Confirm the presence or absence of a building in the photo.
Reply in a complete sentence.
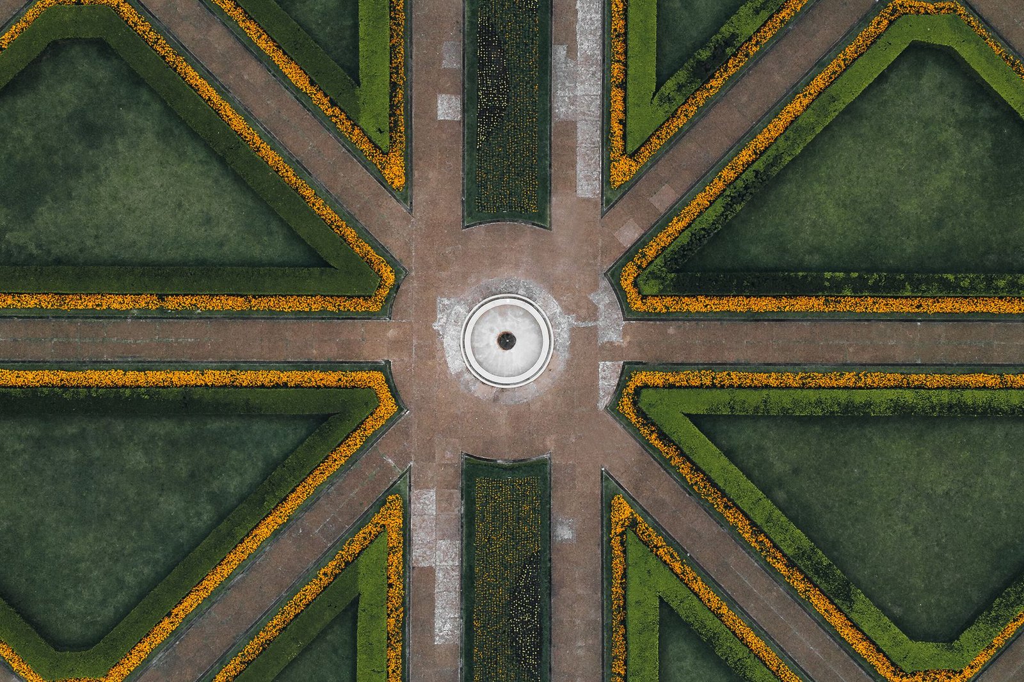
No, there's no building here.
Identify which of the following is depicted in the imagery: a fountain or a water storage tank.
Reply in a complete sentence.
I can see a fountain in this picture.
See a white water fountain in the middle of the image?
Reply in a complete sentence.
Yes, there is a white water fountain in the middle of the image.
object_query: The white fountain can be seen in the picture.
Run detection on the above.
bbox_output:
[460,294,554,387]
